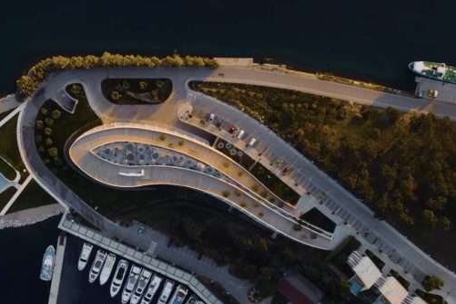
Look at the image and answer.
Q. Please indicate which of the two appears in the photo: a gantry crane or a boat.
boat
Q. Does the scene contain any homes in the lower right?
Yes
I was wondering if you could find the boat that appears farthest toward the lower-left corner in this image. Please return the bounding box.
[38,246,52,283]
